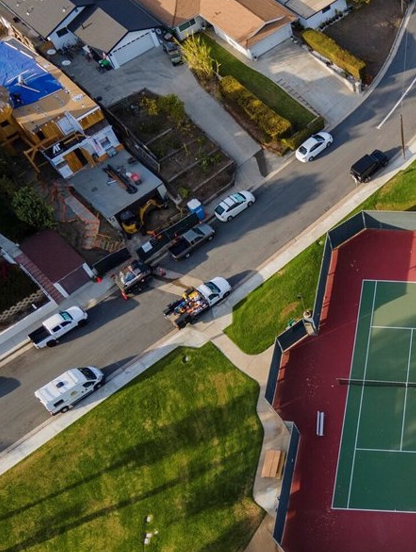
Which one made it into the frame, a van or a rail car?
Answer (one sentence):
Of the two, only a van appears.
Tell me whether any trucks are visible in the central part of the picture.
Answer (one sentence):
Yes, the scene does show a truck in the central part of the picture.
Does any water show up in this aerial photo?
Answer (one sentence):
No, the scene doesn't show any water.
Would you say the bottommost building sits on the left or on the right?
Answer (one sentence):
The bottommost building appears in the left half of the scene.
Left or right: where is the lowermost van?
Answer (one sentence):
The lowermost van sits on the left side.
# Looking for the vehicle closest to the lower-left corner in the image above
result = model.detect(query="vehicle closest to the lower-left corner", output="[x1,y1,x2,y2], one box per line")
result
[33,363,110,417]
